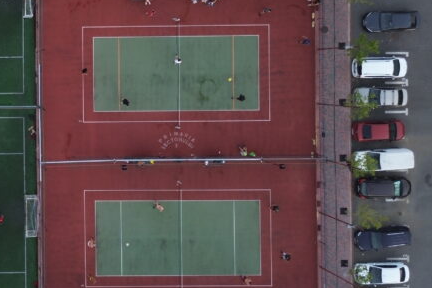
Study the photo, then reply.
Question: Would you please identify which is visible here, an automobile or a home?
automobile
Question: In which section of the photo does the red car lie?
right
